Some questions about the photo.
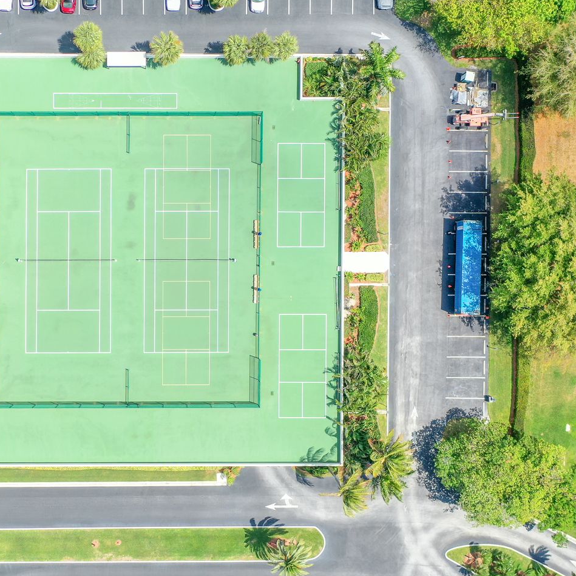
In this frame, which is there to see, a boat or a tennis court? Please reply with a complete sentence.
There is a tennis court in the scene.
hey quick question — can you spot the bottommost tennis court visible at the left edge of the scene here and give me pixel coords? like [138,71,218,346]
[16,168,118,353]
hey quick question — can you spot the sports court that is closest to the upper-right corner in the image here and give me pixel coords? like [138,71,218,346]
[278,142,326,247]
